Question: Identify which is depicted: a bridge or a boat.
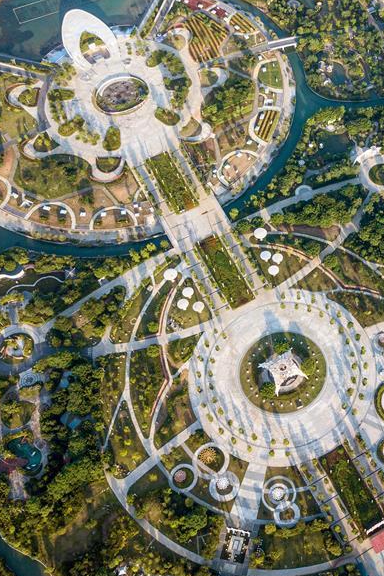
bridge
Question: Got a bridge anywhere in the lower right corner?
No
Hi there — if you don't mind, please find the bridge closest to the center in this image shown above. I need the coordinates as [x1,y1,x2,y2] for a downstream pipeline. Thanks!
[166,196,235,255]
